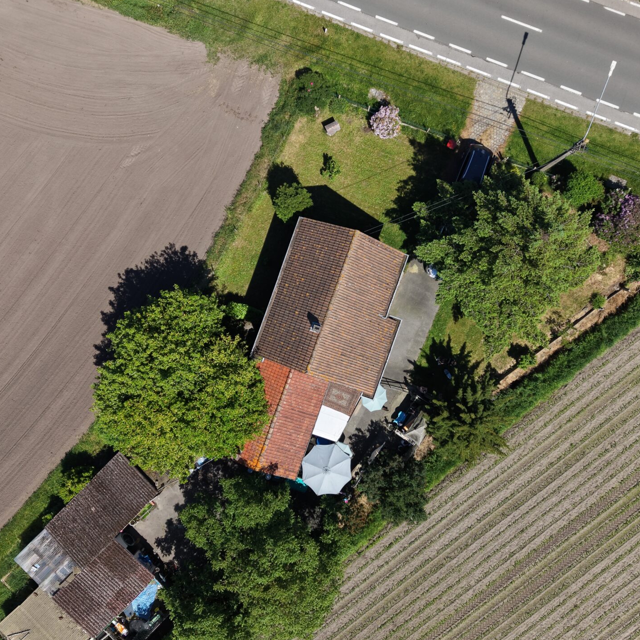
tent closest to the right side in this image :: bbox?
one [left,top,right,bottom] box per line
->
[401,408,427,446]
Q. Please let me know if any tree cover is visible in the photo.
Yes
